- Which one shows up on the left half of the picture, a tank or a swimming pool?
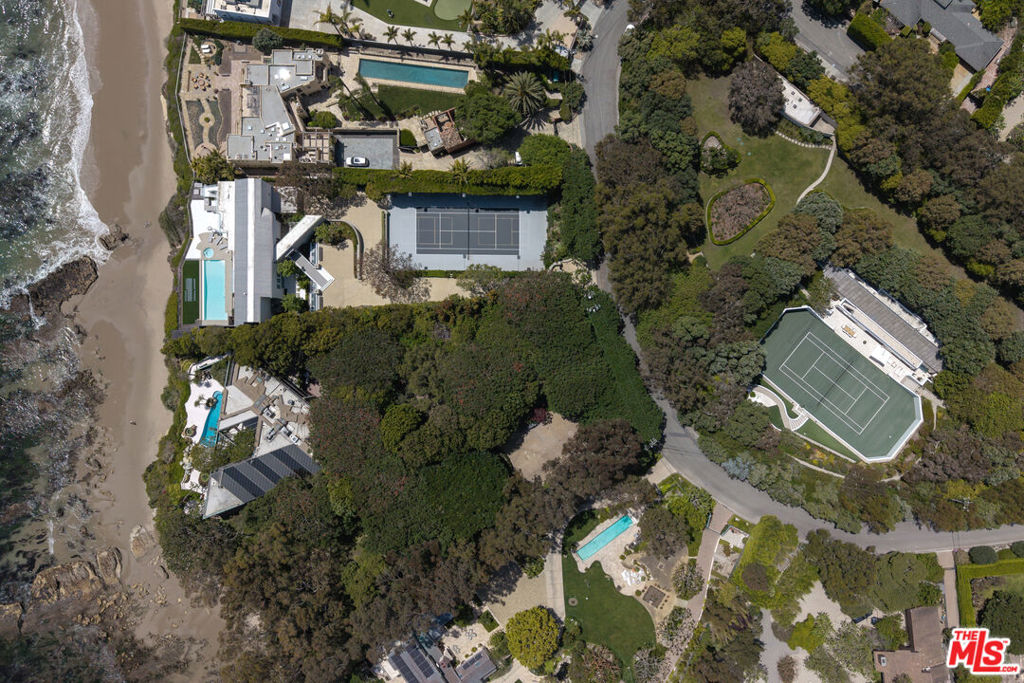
swimming pool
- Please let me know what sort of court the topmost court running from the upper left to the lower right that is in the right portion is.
tennis court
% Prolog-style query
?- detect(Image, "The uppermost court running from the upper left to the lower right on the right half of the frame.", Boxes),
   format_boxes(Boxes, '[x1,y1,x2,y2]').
[756,304,925,465]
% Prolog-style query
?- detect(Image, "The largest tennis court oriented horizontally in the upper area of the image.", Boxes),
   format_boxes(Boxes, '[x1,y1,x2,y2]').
[388,195,548,271]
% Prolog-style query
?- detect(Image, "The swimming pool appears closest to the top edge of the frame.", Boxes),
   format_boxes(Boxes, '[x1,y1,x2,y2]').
[357,57,470,90]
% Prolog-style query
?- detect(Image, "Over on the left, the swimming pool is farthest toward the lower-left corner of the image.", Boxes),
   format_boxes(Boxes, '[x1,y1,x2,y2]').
[199,390,223,448]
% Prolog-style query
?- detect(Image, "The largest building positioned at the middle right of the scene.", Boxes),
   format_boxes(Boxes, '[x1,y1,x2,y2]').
[822,266,939,385]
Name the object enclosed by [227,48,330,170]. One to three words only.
house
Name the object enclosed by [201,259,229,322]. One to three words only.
swimming pool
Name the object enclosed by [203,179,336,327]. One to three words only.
house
